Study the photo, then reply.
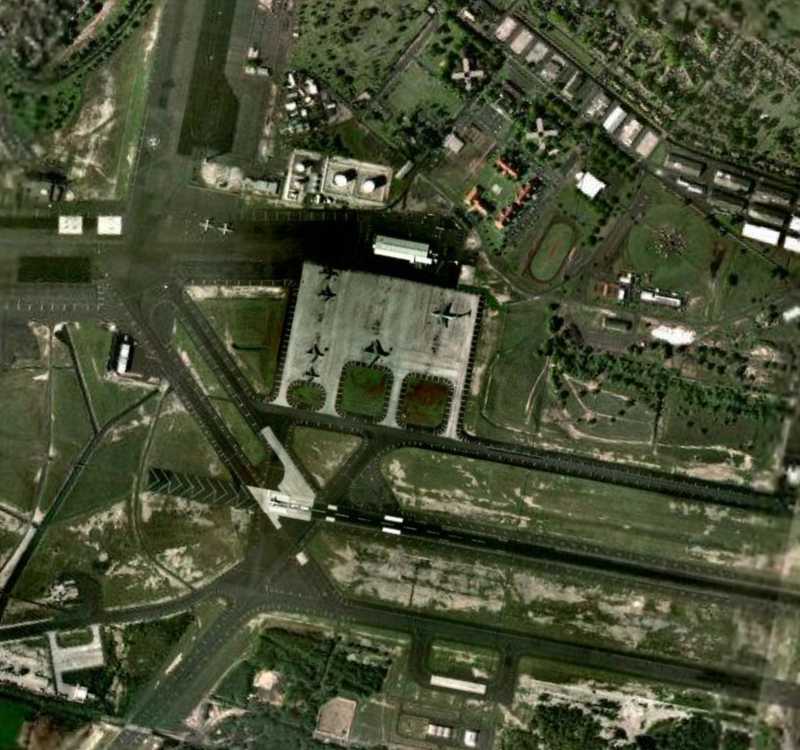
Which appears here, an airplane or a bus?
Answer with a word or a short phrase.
airplane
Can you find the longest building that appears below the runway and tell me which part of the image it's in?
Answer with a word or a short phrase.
bottom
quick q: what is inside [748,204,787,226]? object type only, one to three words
shed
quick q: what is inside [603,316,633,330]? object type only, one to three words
hangar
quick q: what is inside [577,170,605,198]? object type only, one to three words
building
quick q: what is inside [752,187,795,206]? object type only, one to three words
shed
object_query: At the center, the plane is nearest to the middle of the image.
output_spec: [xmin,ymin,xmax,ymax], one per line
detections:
[363,339,390,365]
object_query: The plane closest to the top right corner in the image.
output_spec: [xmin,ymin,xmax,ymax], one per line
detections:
[434,303,466,327]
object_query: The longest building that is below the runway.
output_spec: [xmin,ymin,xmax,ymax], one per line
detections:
[430,675,487,695]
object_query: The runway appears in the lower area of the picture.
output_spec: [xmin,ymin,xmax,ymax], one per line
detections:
[243,426,800,609]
